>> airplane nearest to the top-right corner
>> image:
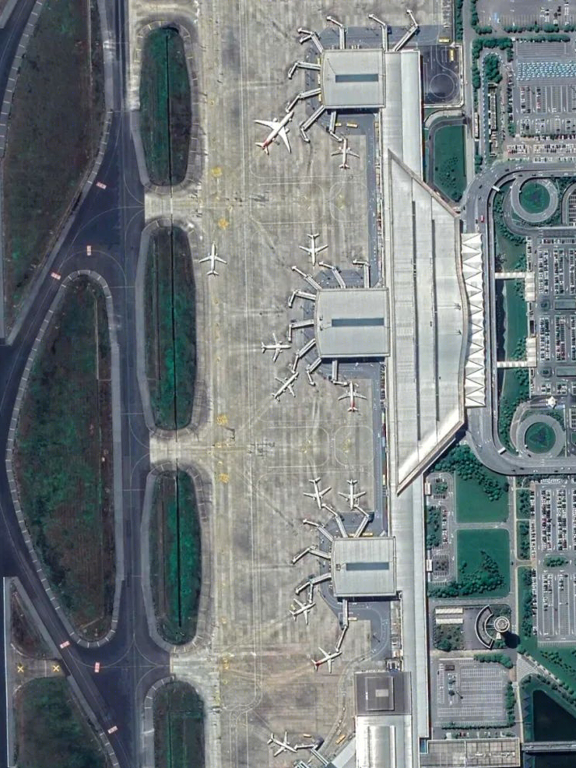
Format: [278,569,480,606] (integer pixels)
[330,137,359,168]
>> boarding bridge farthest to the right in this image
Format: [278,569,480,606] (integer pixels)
[394,7,419,49]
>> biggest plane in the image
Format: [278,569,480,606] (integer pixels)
[253,112,292,155]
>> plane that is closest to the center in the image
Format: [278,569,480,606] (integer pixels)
[270,372,298,400]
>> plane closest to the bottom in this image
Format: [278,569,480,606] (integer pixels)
[268,734,295,758]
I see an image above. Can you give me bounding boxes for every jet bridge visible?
[300,105,325,143]
[332,358,349,386]
[394,7,419,49]
[286,61,320,78]
[287,321,313,343]
[320,502,346,537]
[328,109,343,142]
[326,14,344,49]
[290,265,323,288]
[287,289,316,308]
[353,503,370,537]
[302,519,333,541]
[291,339,316,374]
[284,87,320,113]
[351,259,368,287]
[291,546,332,564]
[367,11,386,49]
[318,259,345,288]
[334,598,347,652]
[304,358,323,387]
[293,574,332,604]
[295,27,323,52]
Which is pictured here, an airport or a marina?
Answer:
airport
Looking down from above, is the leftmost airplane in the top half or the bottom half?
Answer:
top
